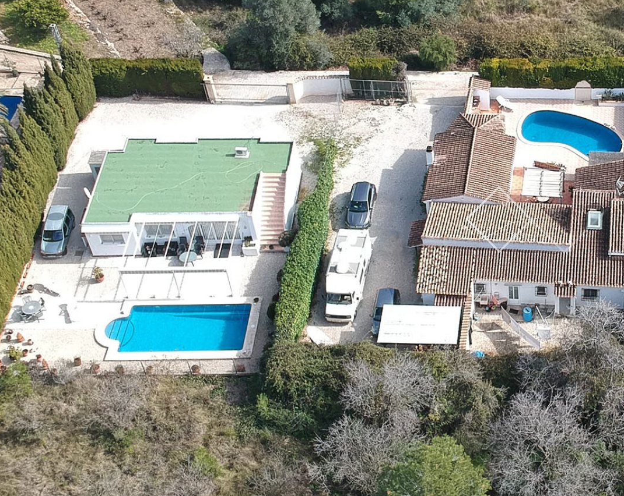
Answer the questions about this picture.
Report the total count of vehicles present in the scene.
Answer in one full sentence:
Altogether the scene contains 4 vehicles.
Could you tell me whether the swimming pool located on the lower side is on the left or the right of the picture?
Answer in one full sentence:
The swimming pool located on the lower side sits on the left side.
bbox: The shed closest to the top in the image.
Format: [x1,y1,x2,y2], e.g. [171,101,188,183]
[470,75,492,108]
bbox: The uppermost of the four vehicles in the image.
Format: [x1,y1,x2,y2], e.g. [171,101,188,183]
[344,179,375,225]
